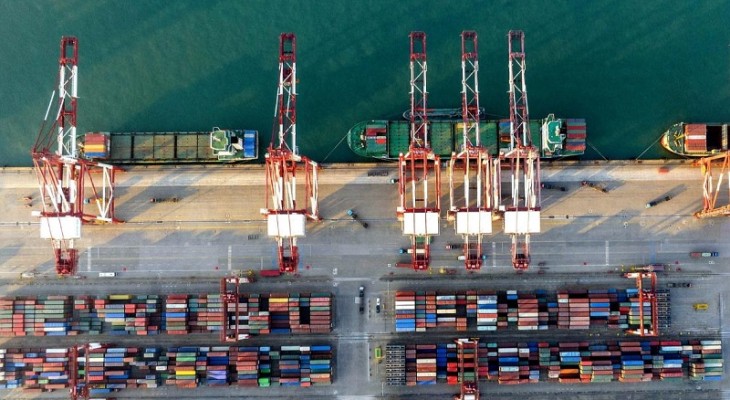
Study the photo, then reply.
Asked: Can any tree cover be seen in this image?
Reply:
No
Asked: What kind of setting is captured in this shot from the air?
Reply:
port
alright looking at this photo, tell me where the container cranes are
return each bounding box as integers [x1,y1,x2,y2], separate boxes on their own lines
[222,277,253,343]
[441,31,493,271]
[256,33,323,273]
[72,337,110,400]
[624,272,657,338]
[450,333,483,400]
[694,153,730,217]
[34,36,125,276]
[487,31,541,271]
[389,31,443,272]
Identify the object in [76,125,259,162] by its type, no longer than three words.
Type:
ship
